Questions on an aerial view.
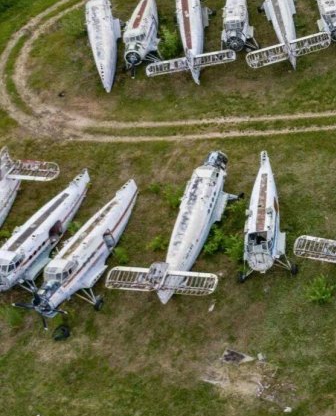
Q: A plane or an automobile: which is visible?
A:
plane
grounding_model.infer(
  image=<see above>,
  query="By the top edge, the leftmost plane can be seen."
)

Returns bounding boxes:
[84,0,129,95]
